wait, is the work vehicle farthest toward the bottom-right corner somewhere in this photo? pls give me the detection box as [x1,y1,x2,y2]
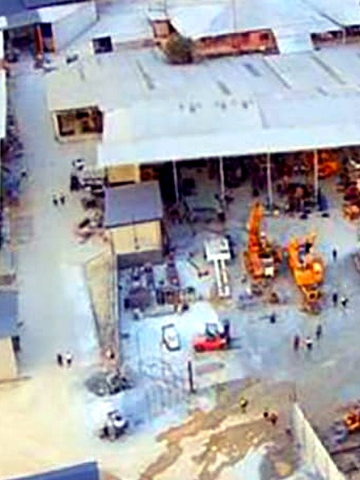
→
[190,316,242,352]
